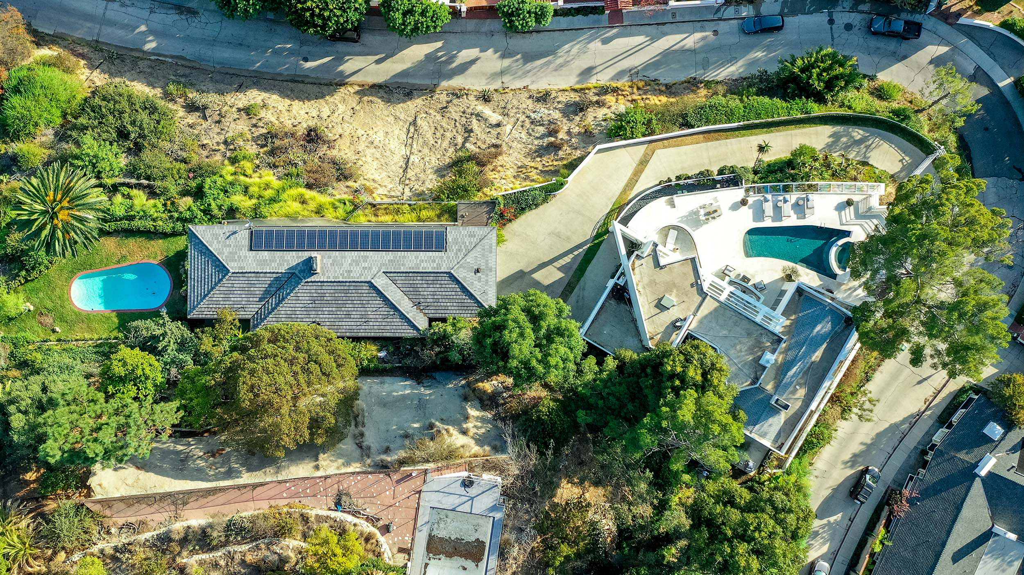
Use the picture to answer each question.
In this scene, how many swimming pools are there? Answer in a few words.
2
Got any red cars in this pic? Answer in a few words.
No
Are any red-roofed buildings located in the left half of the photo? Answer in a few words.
No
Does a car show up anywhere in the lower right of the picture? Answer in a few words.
Yes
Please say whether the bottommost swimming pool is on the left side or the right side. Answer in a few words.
left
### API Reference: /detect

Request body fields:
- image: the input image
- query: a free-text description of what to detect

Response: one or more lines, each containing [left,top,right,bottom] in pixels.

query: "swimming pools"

[68,260,173,313]
[743,221,866,279]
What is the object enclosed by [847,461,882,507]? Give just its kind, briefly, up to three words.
car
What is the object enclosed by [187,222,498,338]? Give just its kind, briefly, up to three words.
house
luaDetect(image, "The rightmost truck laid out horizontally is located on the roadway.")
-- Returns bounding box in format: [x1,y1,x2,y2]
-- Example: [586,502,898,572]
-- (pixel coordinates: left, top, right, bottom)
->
[866,14,924,42]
